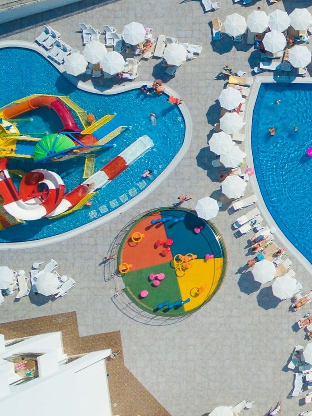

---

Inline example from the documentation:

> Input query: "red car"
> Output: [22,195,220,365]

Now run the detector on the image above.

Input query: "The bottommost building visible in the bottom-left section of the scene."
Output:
[0,331,114,416]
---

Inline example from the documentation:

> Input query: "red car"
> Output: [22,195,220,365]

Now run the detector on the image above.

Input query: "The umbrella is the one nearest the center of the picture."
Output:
[196,195,223,220]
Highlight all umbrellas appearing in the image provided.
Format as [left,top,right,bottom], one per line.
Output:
[253,259,277,283]
[66,52,93,76]
[85,39,114,63]
[225,11,249,36]
[219,88,244,112]
[222,113,246,136]
[275,275,298,299]
[304,343,312,363]
[38,271,69,294]
[124,21,153,46]
[210,401,236,416]
[246,9,269,33]
[222,143,246,167]
[222,174,249,198]
[103,51,129,74]
[291,7,312,30]
[267,7,291,32]
[196,195,223,220]
[265,30,287,53]
[166,44,190,67]
[0,266,26,290]
[288,45,312,69]
[209,132,235,154]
